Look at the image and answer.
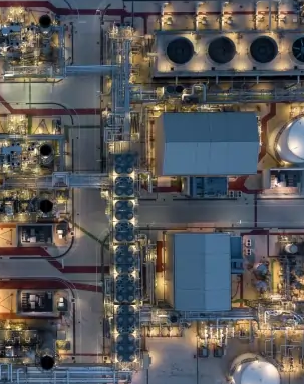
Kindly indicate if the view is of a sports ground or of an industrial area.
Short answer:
industrial area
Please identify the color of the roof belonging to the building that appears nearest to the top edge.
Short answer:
blue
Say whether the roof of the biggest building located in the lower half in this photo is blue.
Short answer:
Yes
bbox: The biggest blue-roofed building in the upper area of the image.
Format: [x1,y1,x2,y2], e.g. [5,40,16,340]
[158,113,260,176]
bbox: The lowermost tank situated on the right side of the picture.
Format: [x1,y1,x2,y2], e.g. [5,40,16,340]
[226,351,281,384]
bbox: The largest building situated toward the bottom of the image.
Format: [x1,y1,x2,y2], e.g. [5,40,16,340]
[168,233,230,313]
